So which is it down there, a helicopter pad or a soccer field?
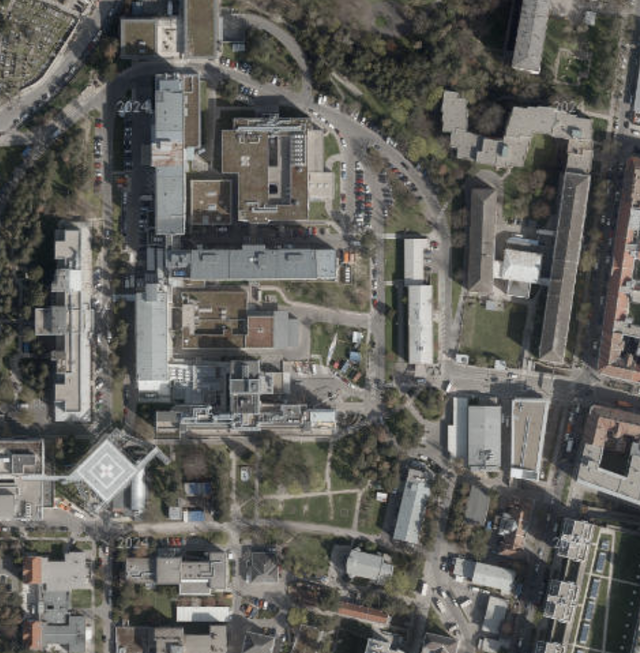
helicopter pad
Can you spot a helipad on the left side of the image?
Yes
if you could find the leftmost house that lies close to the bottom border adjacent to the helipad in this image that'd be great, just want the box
[21,551,93,653]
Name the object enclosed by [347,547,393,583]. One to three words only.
house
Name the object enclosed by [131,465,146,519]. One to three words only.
building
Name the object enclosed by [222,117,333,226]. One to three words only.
building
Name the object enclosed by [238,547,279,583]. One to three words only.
house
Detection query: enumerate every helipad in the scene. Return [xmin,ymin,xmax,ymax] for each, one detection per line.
[64,428,171,514]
